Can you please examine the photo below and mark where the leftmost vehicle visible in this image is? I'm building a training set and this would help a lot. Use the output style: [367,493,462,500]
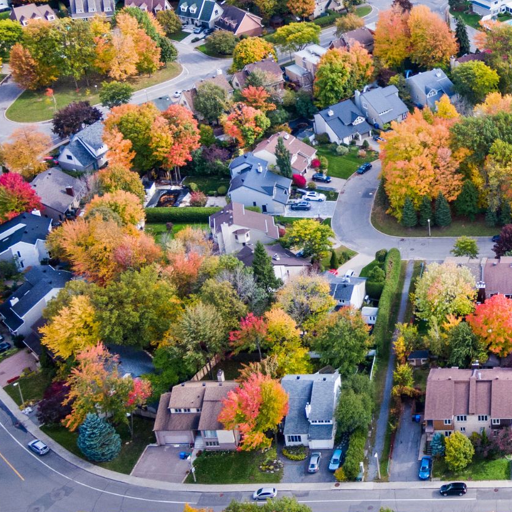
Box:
[26,435,48,453]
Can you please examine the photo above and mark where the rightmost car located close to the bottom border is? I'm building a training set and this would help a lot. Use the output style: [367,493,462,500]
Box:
[439,478,466,493]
